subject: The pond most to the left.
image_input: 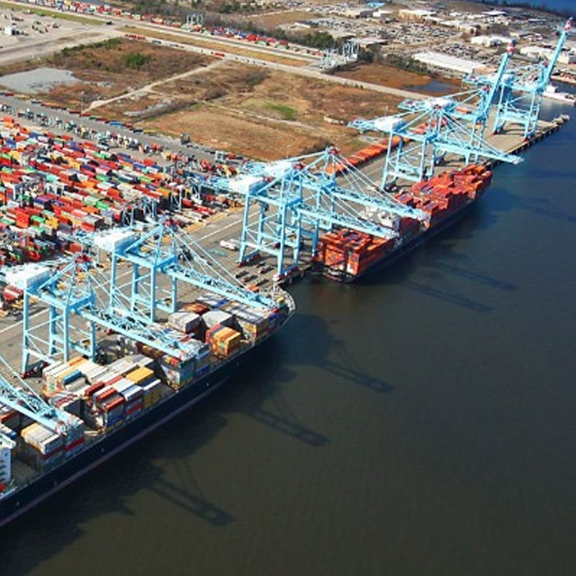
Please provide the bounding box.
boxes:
[0,68,109,93]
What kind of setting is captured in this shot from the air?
port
